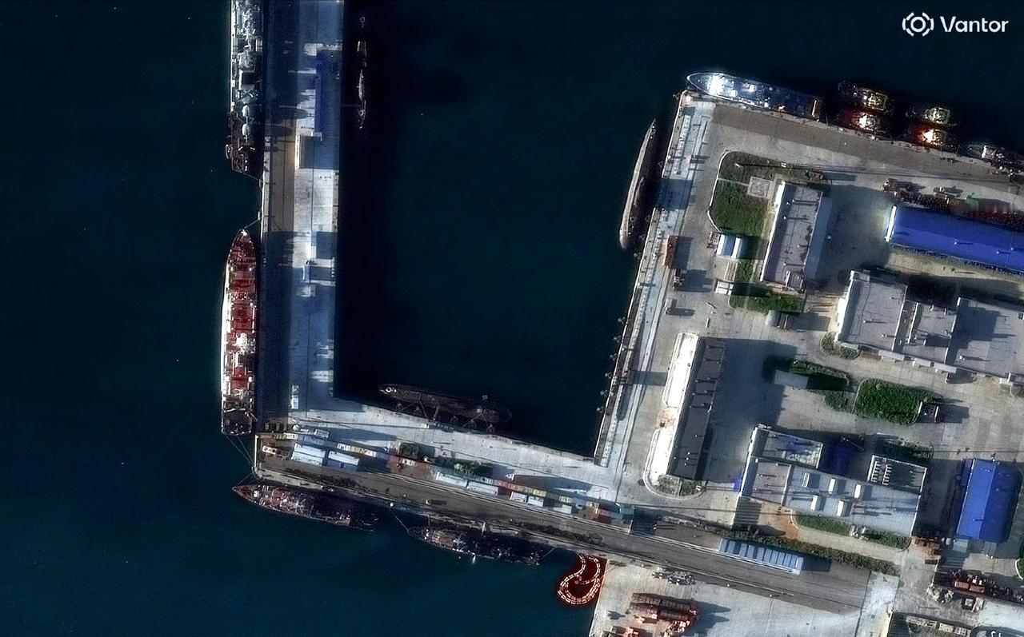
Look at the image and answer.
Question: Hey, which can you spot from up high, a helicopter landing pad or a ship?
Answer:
ship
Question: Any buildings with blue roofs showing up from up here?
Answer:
Yes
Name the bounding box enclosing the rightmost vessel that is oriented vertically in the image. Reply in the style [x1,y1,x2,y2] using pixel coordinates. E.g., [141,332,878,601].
[621,121,657,248]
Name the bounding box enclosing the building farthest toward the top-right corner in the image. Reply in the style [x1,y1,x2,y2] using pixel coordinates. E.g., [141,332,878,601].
[887,207,1024,273]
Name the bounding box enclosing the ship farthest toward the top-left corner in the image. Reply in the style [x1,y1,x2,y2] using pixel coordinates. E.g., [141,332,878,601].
[231,0,264,173]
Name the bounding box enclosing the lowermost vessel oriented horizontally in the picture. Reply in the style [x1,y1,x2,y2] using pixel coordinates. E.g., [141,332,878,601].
[407,524,551,569]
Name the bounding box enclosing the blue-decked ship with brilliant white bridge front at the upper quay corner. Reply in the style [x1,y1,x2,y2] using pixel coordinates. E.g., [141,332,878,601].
[687,72,824,118]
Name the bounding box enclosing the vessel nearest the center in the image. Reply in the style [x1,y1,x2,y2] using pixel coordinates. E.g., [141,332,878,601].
[377,387,509,421]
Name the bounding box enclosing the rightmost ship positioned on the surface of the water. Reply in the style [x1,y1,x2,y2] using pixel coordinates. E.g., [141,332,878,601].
[966,143,1024,169]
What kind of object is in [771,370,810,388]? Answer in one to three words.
shed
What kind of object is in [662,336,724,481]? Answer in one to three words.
building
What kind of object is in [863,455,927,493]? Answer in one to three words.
building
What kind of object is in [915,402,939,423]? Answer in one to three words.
shed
